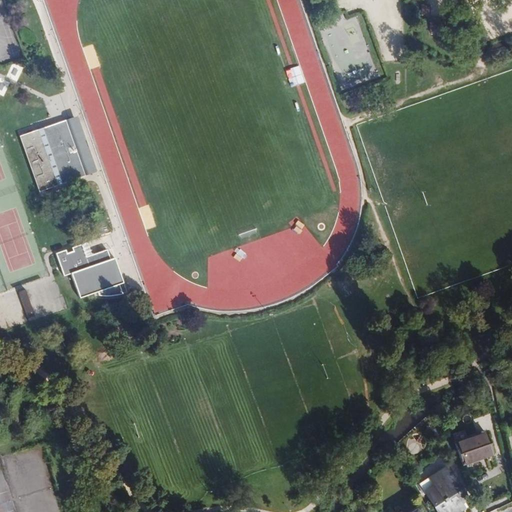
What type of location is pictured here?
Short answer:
sports ground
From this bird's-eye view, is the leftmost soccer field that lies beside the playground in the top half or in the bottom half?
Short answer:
top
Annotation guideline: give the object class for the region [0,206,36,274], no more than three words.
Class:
tennis court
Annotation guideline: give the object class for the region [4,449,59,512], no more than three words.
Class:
tennis court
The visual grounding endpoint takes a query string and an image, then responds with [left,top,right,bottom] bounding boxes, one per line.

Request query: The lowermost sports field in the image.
[82,296,358,500]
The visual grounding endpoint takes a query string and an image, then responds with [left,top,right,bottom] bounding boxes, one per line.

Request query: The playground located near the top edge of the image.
[321,14,380,92]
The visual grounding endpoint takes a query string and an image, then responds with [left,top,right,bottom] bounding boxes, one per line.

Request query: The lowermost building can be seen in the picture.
[416,464,470,512]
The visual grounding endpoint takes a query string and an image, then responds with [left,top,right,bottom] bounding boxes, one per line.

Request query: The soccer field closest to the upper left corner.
[77,0,341,286]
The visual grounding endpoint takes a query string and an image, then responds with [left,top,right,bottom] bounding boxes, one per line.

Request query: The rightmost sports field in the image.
[357,70,512,296]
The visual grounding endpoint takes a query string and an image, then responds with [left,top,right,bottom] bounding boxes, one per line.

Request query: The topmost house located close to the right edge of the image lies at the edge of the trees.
[454,428,495,468]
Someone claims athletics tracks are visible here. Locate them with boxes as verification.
[42,0,363,317]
